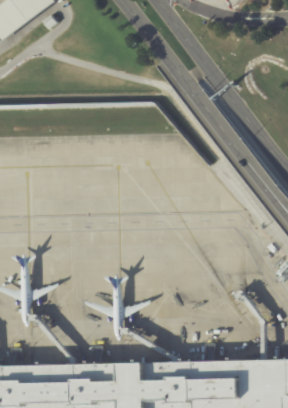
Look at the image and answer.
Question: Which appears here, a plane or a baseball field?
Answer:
plane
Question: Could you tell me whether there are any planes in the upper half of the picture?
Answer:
No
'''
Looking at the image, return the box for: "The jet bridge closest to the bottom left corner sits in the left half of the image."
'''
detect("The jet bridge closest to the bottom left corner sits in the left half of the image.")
[25,312,80,364]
